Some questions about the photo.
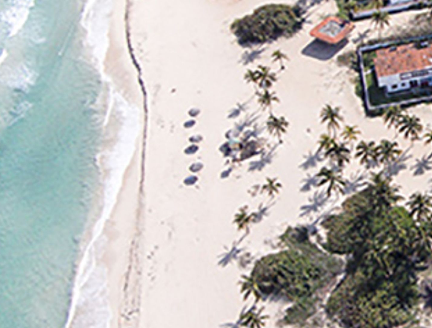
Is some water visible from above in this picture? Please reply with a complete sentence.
Yes, some water is visible.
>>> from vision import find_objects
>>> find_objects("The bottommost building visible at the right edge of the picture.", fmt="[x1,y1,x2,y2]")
[373,43,432,100]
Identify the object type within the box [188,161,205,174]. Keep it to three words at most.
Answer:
umbrella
